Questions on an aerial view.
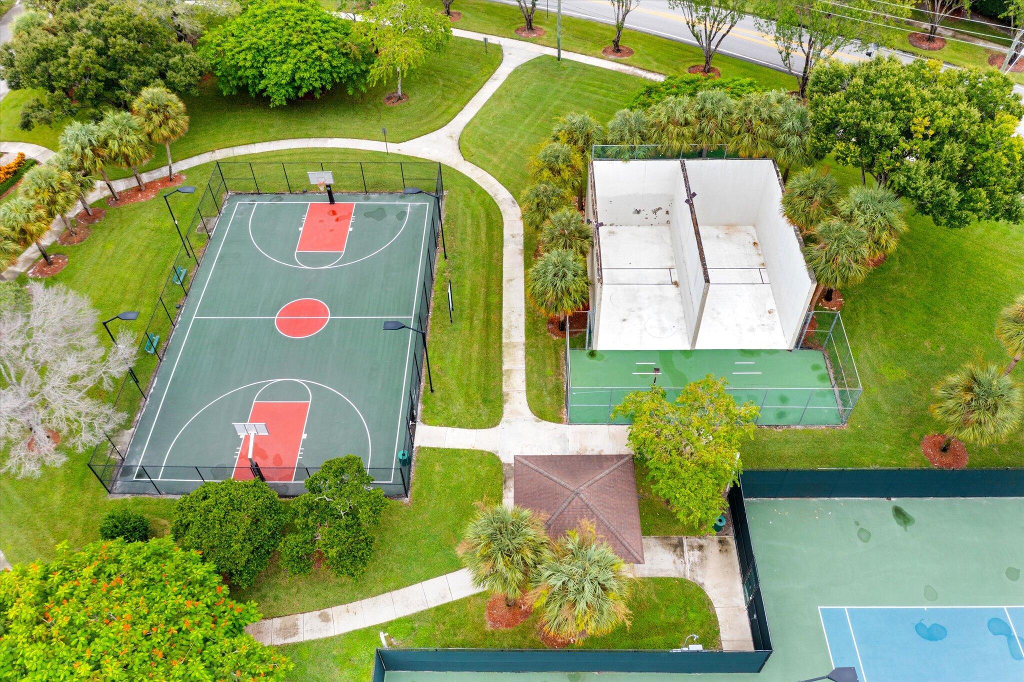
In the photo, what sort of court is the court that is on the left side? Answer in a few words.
basketball court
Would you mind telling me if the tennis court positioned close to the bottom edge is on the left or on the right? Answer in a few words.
right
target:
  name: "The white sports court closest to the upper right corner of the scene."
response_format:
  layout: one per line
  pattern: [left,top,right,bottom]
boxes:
[584,157,820,349]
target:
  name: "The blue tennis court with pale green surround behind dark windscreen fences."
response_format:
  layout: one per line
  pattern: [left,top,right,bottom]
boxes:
[384,497,1024,682]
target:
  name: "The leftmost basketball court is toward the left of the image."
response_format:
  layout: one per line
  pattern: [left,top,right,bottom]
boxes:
[106,193,444,498]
